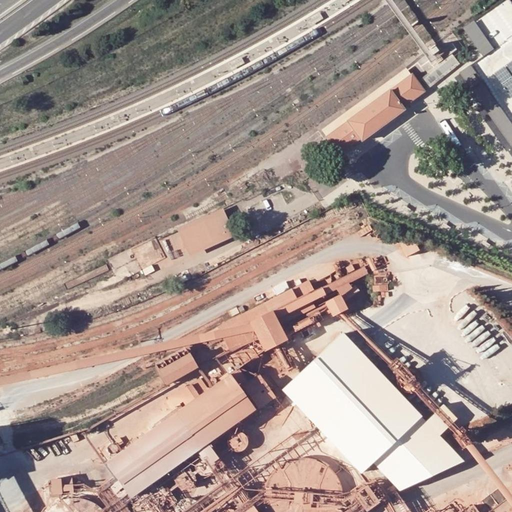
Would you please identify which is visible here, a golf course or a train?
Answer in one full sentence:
The one in the frame is a train.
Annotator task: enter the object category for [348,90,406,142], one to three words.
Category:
train station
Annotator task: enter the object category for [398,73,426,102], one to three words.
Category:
building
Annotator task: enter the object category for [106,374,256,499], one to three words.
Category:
shed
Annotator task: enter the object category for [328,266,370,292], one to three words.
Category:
house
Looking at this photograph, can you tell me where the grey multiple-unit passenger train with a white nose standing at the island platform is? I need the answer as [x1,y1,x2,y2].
[160,28,323,116]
